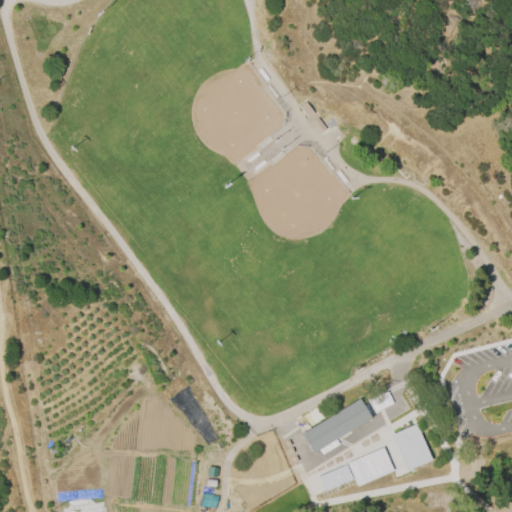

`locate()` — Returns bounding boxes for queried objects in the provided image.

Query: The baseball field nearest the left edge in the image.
[49,0,287,240]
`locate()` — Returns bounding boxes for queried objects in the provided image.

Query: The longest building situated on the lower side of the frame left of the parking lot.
[305,398,372,452]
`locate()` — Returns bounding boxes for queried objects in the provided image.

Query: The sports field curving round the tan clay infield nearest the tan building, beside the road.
[128,147,468,414]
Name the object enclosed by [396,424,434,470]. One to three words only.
building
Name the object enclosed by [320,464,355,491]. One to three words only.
building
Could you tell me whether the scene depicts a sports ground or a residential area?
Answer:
sports ground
